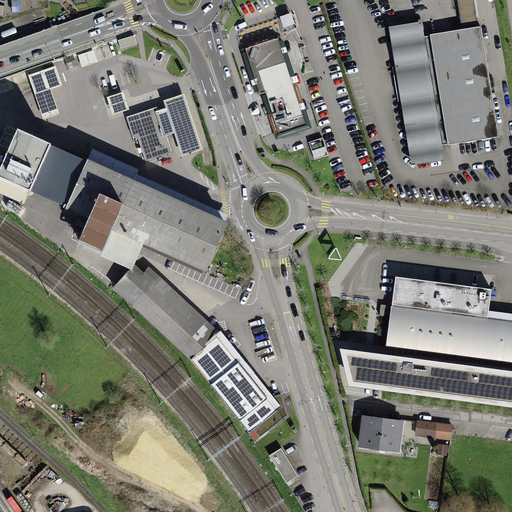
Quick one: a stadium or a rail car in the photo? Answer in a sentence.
The one in the frame is a rail car.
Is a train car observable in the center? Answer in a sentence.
No, there is no train car in the center.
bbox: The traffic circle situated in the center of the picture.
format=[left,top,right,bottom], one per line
[234,172,308,246]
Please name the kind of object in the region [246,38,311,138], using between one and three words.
building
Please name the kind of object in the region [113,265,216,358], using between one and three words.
shed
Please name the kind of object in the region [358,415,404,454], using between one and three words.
house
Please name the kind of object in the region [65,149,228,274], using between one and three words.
building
